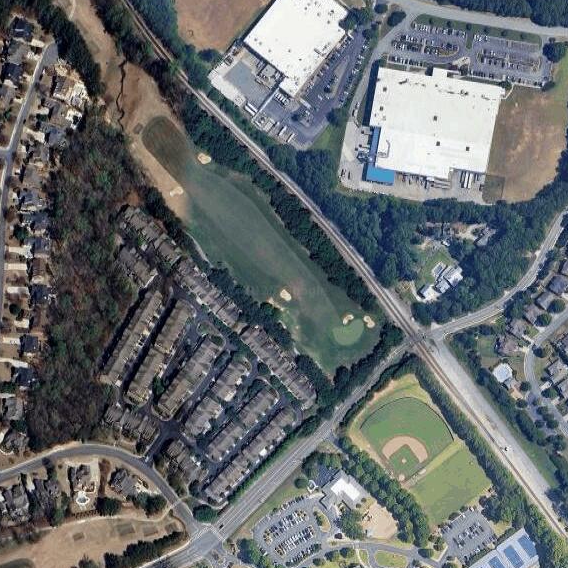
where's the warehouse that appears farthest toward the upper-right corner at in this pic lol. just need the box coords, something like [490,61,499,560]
[370,67,505,181]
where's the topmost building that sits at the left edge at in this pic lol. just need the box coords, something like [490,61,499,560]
[8,18,36,42]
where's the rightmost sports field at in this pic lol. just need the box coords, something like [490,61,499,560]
[412,453,488,528]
